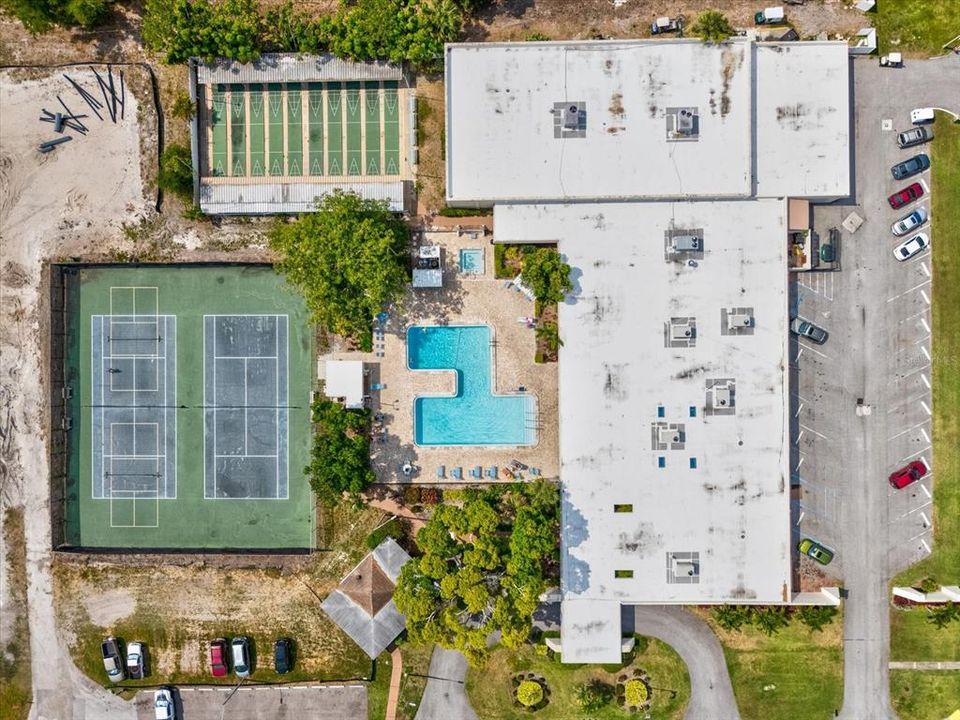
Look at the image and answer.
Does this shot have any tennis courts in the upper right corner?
No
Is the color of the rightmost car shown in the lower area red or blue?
red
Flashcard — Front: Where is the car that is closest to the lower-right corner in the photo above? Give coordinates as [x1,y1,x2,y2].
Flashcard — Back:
[799,538,835,566]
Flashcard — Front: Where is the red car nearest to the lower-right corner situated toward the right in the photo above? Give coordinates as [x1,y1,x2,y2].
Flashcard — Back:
[889,461,927,488]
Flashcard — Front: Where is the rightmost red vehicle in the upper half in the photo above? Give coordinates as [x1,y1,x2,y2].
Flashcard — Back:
[887,183,925,209]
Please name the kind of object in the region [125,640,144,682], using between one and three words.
vehicle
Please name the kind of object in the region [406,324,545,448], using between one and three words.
swimming pool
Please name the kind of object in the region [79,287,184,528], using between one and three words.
tennis court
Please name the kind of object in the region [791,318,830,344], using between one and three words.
car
